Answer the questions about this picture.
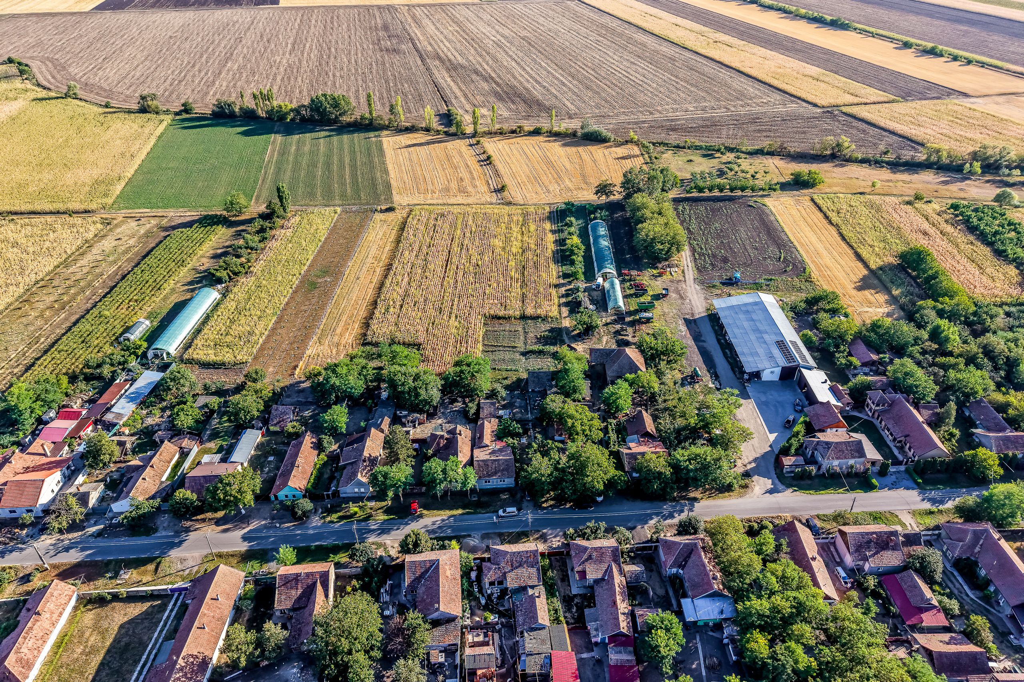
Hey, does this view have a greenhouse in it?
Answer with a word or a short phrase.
Yes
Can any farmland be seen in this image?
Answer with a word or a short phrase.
Yes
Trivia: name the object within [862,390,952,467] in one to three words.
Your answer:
house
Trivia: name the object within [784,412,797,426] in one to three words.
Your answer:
vehicle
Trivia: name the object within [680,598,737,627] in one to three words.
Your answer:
shed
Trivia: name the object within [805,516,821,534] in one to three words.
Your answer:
car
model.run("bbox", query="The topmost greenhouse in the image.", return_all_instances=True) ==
[589,217,617,278]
